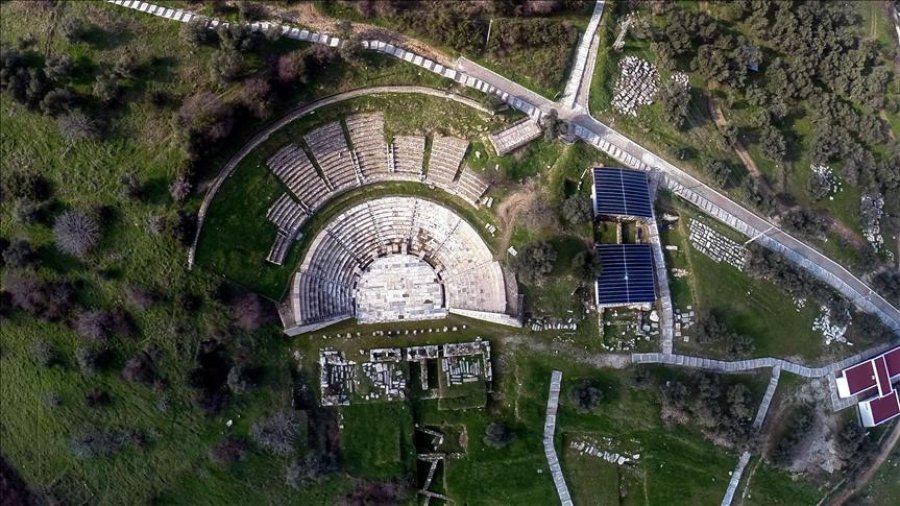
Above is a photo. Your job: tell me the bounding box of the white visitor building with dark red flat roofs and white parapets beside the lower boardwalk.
[837,346,900,426]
